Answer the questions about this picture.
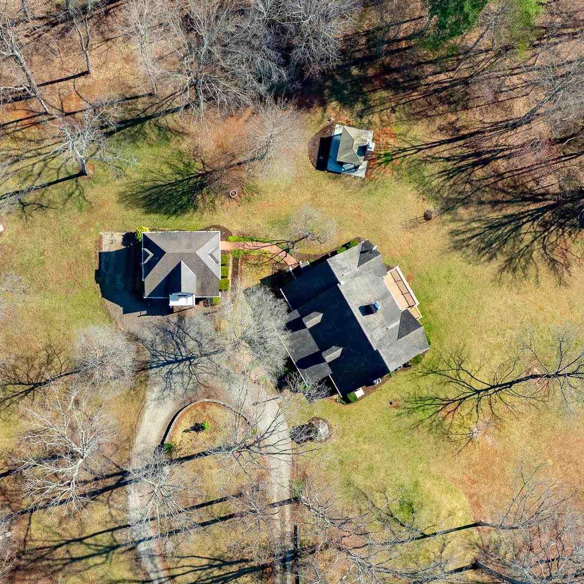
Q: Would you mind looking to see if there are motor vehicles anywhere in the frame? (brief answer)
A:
No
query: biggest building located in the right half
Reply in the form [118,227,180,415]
[272,238,430,397]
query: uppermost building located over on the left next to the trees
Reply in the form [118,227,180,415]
[142,231,221,308]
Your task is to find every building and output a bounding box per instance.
[327,124,375,177]
[142,231,221,308]
[272,238,430,397]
